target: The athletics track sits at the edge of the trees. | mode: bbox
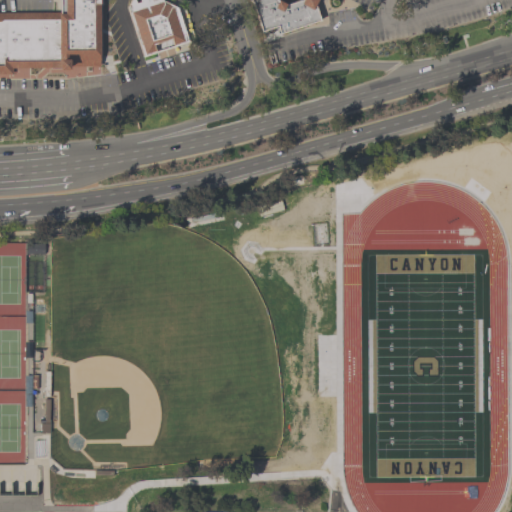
[344,178,510,512]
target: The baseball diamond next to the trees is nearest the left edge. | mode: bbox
[52,224,283,469]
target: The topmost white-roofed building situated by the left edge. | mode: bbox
[0,0,102,71]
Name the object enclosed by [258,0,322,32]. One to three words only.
building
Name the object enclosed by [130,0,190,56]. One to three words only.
building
